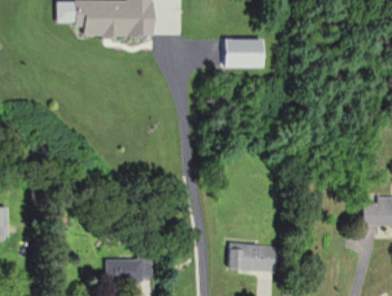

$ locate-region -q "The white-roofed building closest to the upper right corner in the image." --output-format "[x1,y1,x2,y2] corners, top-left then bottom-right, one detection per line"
[226,38,266,68]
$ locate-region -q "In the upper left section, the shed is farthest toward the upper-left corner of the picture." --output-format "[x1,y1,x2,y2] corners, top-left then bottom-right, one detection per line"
[56,0,76,23]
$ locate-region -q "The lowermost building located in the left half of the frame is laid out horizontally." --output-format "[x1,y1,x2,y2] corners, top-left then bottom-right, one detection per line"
[105,258,152,280]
